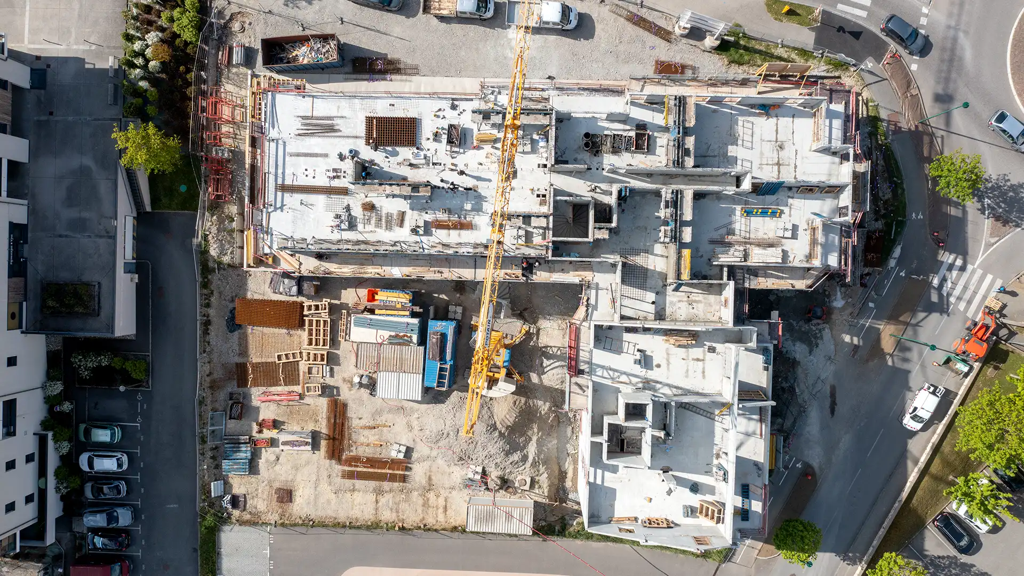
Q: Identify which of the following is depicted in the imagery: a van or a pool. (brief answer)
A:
van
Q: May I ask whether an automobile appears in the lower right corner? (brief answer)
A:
Yes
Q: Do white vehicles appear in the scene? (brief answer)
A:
Yes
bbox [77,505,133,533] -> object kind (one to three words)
car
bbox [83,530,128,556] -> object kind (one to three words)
car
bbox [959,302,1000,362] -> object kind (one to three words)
work vehicle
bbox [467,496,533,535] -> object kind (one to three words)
building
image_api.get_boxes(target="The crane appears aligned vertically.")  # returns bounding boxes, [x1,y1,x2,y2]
[460,0,535,435]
